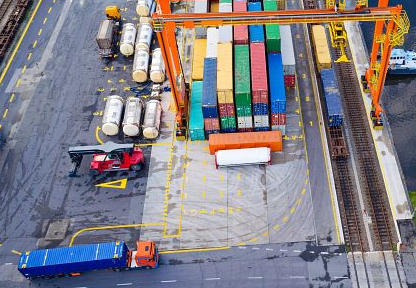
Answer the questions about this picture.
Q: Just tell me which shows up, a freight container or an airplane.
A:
freight container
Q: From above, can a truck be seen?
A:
Yes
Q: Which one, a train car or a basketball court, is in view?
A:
train car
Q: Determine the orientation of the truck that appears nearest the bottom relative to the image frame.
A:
from left to right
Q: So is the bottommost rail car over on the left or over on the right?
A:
right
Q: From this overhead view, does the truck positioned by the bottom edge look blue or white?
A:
blue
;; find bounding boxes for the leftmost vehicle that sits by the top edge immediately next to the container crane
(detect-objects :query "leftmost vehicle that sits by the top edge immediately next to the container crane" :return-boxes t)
[101,9,122,53]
